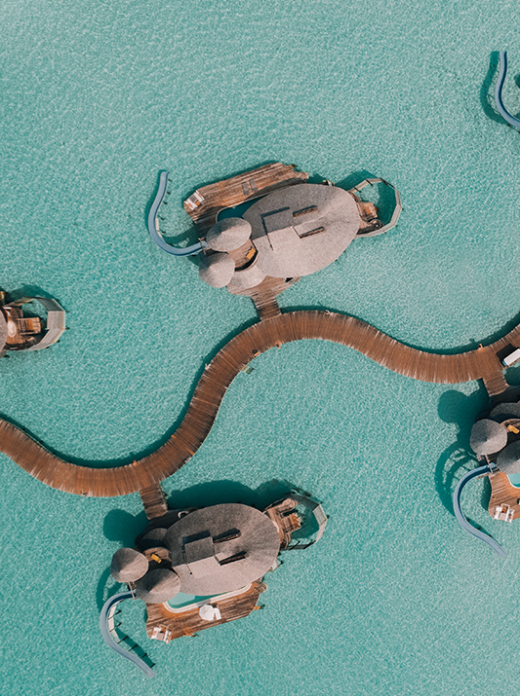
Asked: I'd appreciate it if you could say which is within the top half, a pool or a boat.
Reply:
pool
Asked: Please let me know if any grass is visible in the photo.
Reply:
No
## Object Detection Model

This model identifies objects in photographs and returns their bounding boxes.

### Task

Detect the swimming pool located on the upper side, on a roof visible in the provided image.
[214,195,265,223]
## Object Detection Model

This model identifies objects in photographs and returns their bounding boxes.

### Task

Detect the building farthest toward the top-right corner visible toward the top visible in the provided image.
[178,165,385,323]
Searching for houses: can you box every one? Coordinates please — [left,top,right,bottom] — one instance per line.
[0,301,46,363]
[178,165,385,323]
[109,485,311,643]
[471,366,520,521]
